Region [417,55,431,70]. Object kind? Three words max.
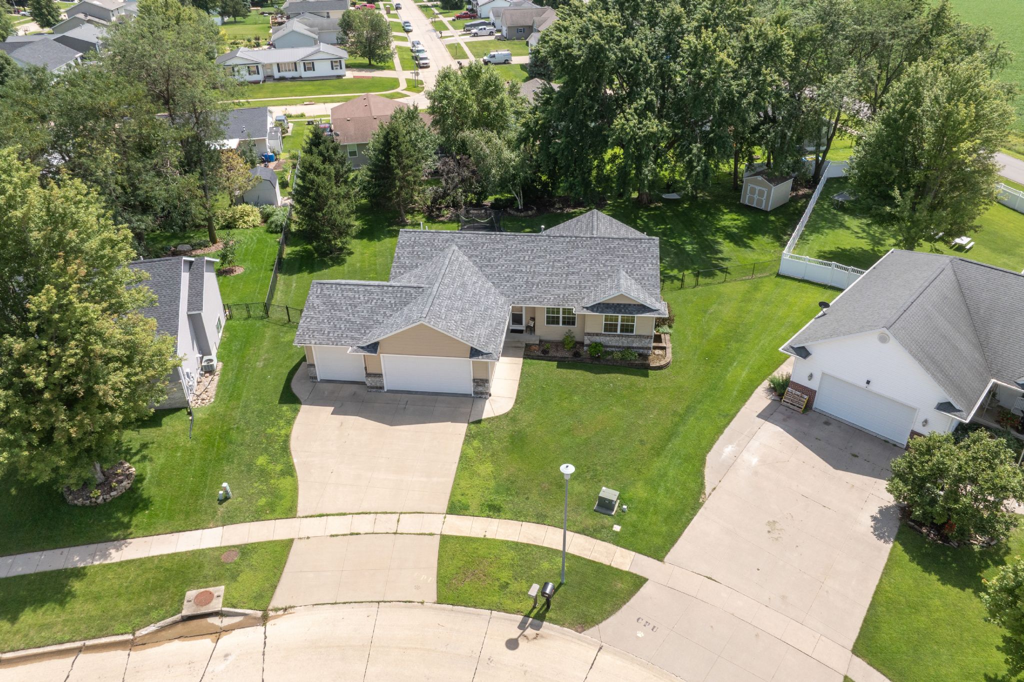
car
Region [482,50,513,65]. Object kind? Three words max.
vehicle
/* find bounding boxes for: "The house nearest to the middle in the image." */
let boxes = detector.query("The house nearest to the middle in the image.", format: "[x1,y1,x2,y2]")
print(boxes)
[291,208,670,397]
